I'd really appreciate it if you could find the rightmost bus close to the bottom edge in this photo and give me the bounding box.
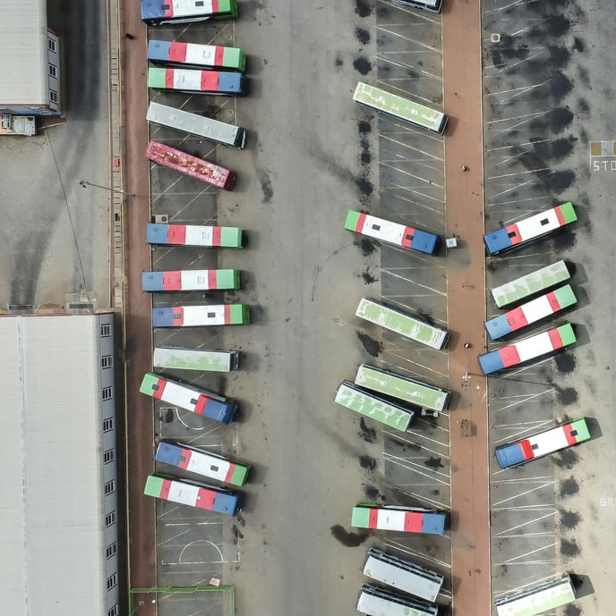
[494,573,575,616]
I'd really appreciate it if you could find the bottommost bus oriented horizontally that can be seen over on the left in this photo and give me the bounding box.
[145,470,246,516]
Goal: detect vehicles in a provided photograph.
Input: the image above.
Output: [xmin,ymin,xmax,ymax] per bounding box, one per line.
[483,284,578,342]
[353,81,448,135]
[352,502,448,534]
[482,201,578,257]
[146,102,249,150]
[145,140,238,192]
[490,260,571,310]
[154,304,252,328]
[494,573,575,616]
[148,68,250,98]
[141,0,239,27]
[494,416,591,470]
[156,437,257,485]
[344,210,441,257]
[140,370,242,425]
[148,39,249,73]
[476,322,577,377]
[354,295,449,348]
[154,346,239,374]
[334,381,416,430]
[147,221,250,248]
[355,362,449,409]
[356,585,438,616]
[145,470,246,516]
[382,0,442,15]
[144,269,245,294]
[363,551,442,600]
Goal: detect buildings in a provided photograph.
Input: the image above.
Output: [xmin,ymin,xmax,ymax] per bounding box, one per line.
[0,0,66,118]
[0,316,127,616]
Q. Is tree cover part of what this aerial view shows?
No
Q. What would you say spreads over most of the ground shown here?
paved ground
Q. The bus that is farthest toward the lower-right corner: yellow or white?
white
